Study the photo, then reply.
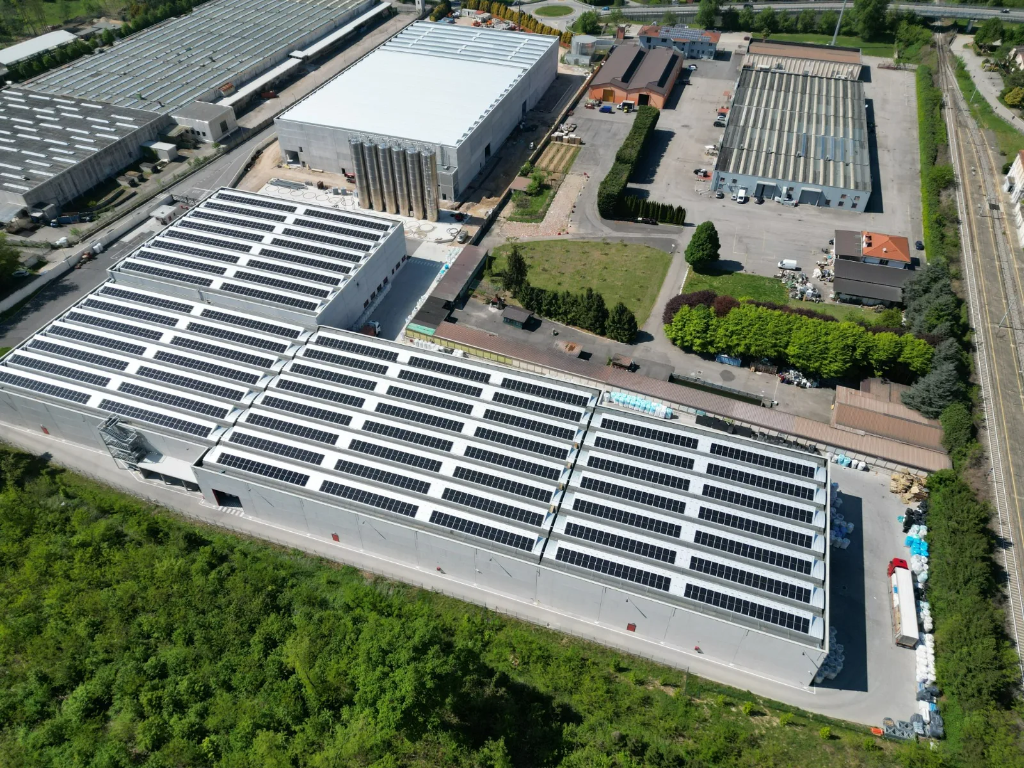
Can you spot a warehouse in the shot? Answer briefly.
Yes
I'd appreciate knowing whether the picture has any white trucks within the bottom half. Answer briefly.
Yes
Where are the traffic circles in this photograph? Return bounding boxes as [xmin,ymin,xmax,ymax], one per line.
[516,0,591,22]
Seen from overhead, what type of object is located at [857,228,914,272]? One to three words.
house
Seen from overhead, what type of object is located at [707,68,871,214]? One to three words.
warehouse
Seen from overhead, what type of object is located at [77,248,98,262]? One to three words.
work vehicle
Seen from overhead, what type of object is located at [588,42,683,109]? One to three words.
building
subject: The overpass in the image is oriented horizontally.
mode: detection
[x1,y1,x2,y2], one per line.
[601,1,1024,27]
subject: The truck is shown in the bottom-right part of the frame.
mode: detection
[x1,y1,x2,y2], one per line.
[887,555,922,652]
